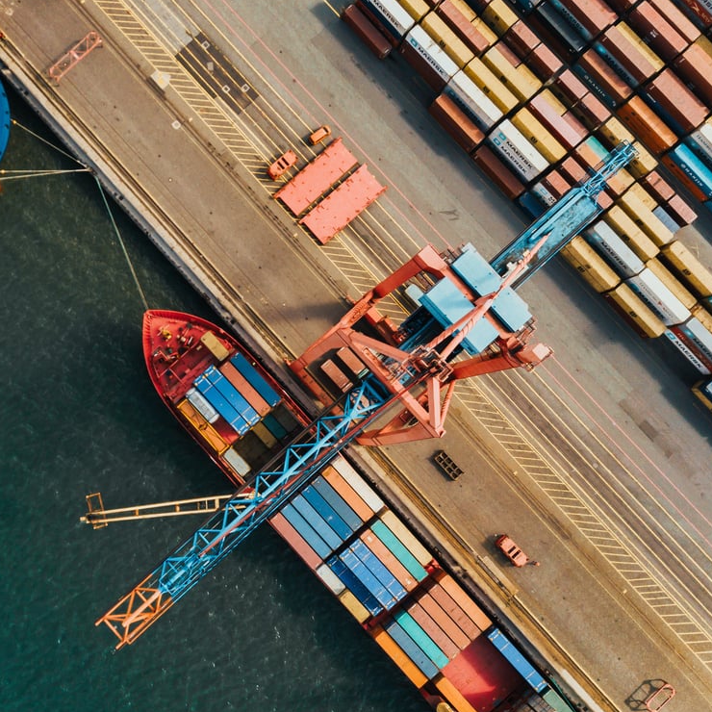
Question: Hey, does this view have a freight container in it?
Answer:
Yes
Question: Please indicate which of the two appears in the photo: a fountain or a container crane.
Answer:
container crane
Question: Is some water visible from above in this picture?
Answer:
Yes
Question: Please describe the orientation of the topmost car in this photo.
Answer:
at an angle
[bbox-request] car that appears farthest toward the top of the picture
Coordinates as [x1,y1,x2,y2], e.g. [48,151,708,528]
[304,130,328,150]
